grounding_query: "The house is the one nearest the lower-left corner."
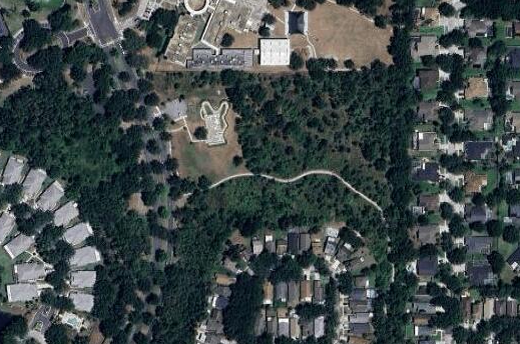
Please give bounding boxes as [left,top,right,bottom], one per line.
[7,281,41,301]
